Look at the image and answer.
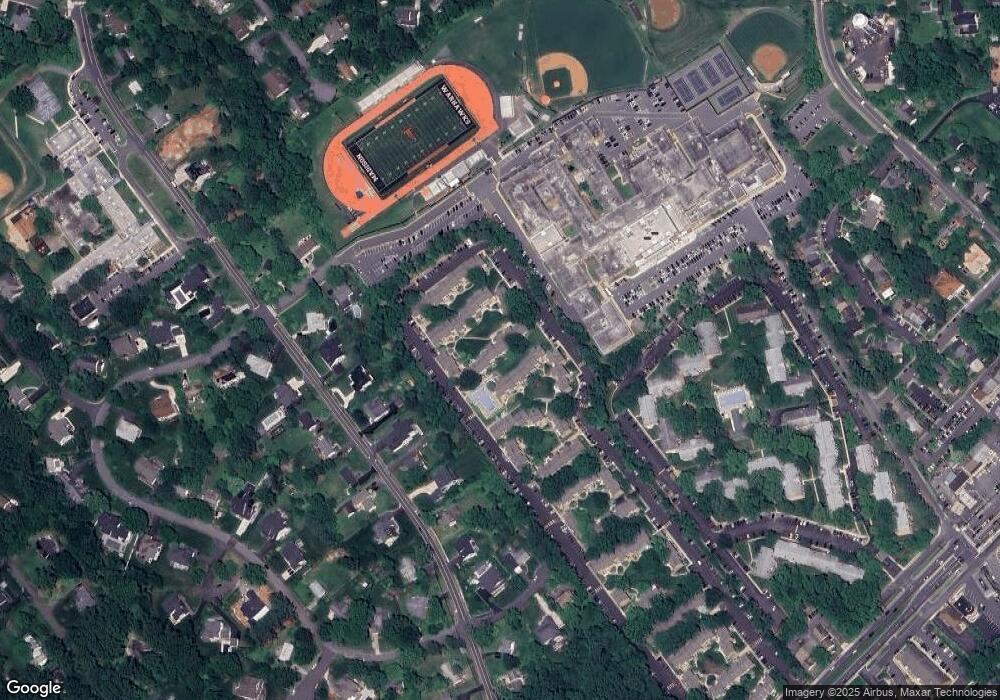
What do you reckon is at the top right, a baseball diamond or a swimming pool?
baseball diamond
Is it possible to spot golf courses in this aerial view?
No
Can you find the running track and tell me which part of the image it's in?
top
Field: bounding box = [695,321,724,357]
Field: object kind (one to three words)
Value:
building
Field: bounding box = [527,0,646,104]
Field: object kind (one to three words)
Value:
baseball field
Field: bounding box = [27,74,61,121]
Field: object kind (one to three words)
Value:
basketball court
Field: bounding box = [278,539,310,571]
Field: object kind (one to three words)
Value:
house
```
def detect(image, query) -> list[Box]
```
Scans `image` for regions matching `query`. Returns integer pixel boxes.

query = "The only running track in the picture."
[323,61,506,236]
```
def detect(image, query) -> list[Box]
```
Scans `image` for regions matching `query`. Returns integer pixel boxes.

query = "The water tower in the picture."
[853,13,884,46]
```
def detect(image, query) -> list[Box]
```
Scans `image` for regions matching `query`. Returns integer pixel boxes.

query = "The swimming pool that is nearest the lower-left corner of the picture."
[463,385,502,418]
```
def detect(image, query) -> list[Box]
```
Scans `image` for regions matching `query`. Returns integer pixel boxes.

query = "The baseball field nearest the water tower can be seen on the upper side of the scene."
[725,7,814,86]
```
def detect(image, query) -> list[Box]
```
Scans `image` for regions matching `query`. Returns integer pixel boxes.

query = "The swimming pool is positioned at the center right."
[713,385,752,418]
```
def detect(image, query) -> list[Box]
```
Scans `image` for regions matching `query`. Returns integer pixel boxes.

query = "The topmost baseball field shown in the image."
[646,0,683,31]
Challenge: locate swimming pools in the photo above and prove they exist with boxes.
[713,385,752,418]
[463,385,502,418]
